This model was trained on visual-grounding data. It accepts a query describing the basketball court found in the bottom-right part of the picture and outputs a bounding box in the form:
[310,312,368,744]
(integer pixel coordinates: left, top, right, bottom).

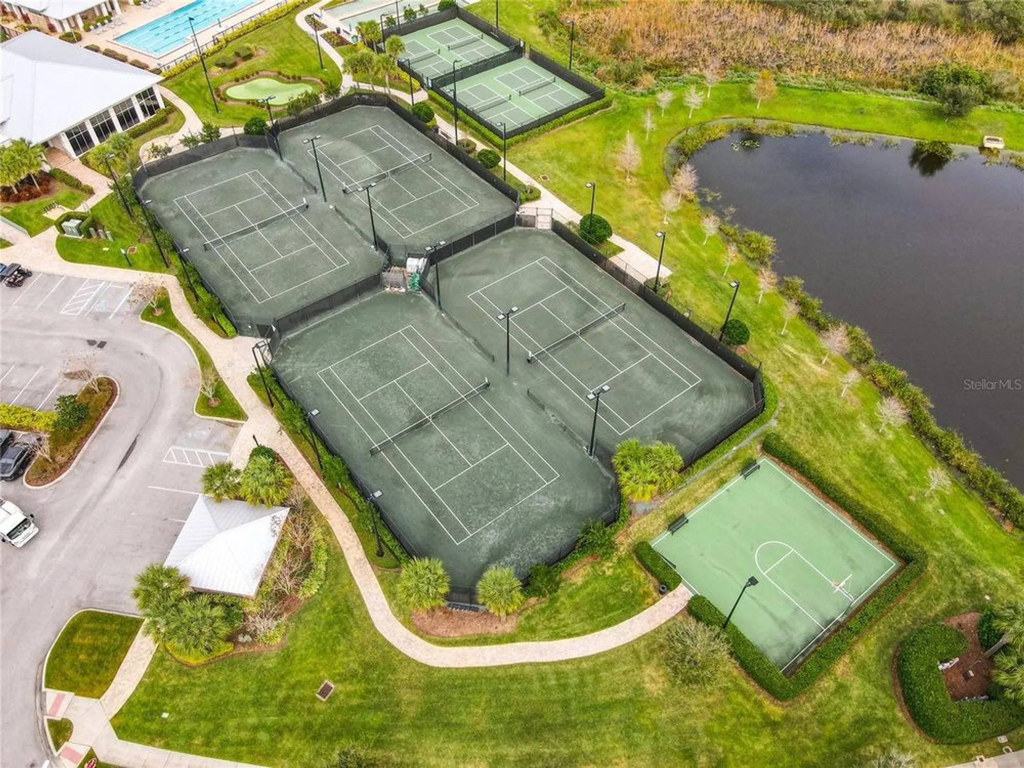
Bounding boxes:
[653,454,902,679]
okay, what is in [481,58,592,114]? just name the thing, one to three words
sports court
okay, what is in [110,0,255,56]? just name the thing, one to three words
swimming pool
